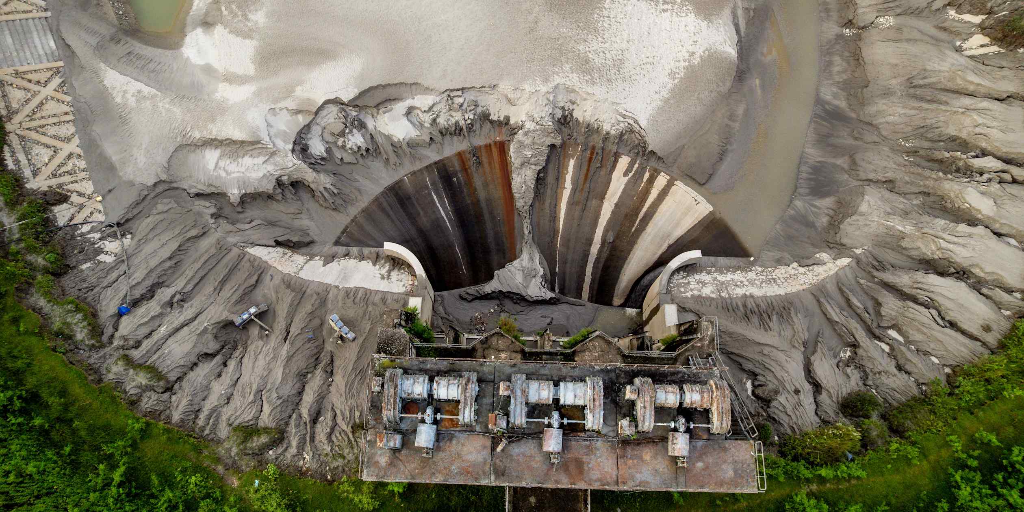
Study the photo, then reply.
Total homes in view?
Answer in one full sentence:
The picture shows no homes.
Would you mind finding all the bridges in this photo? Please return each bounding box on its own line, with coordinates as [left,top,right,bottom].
[505,487,591,512]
